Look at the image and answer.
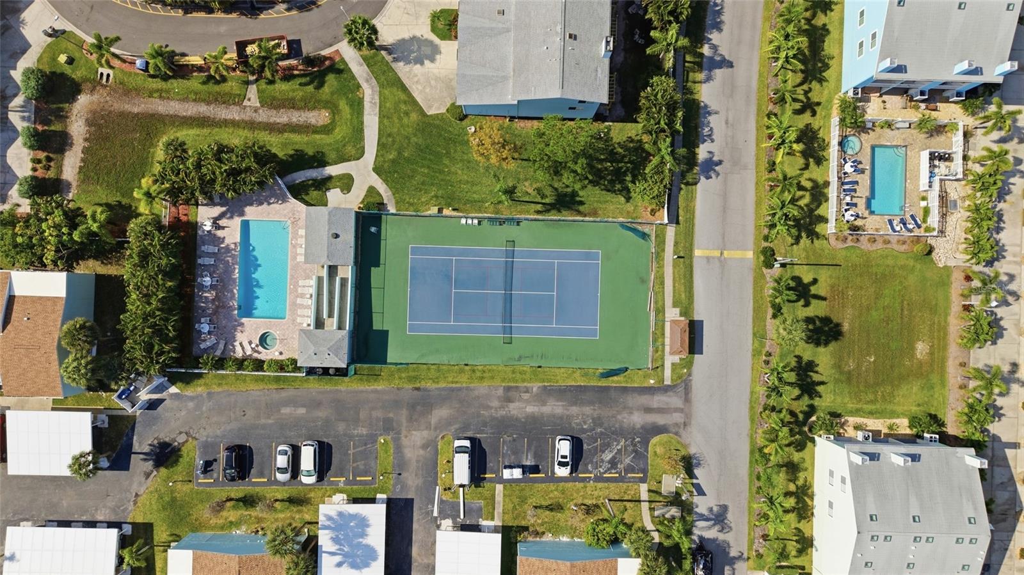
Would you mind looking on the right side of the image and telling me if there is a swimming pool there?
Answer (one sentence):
Yes, there is a swimming pool on the right side of the image.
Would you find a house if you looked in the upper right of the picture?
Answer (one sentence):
Yes, a house shows up in the upper right of the picture.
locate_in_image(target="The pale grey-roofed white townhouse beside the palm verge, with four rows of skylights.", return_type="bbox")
[813,428,992,575]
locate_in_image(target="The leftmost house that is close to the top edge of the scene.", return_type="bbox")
[457,0,619,119]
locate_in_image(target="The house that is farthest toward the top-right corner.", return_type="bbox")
[841,0,1021,107]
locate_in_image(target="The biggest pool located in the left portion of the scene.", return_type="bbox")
[236,219,292,321]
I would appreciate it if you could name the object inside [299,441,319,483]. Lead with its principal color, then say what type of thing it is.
white car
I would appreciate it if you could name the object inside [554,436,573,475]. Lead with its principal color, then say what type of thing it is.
white car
